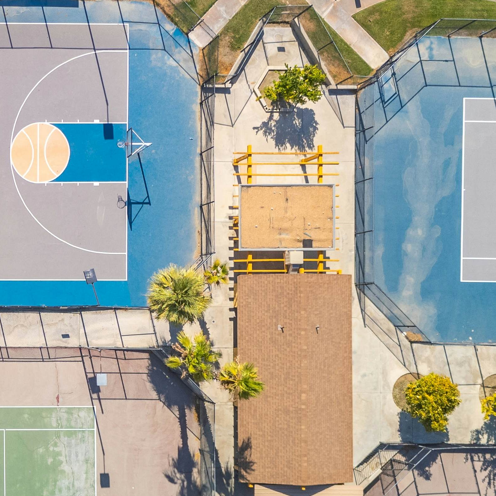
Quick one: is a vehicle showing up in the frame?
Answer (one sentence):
No, I can see no vehicle in this picture.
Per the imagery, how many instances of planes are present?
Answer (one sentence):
No planes are visible.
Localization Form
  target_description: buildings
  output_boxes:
[233,183,335,252]
[232,275,352,490]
